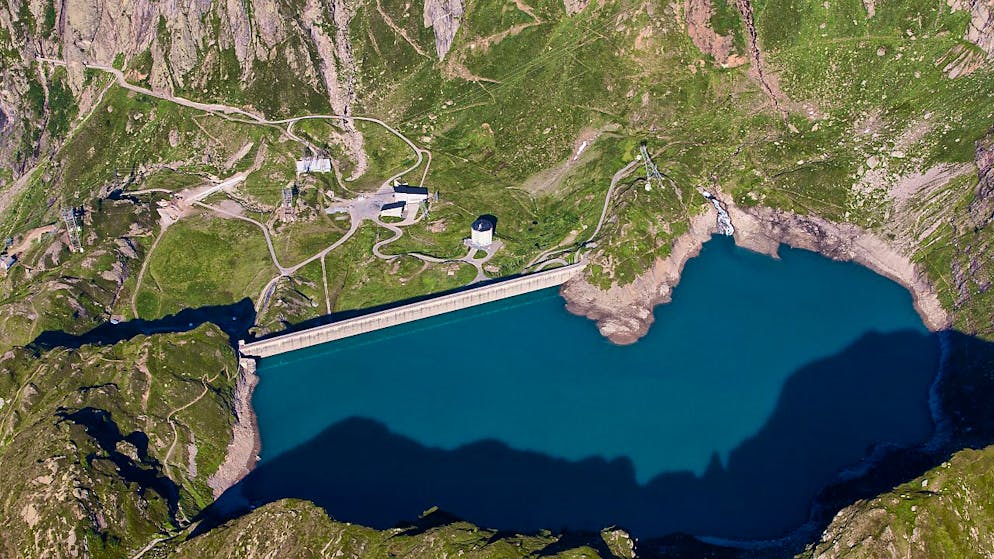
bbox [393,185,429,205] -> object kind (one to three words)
building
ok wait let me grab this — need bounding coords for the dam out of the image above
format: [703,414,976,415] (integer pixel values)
[246,258,572,357]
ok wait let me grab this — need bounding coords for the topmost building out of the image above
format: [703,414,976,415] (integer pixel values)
[297,159,331,174]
